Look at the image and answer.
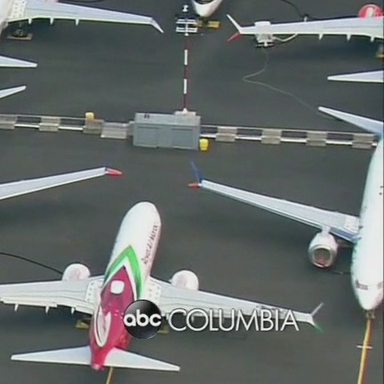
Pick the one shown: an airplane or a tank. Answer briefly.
airplane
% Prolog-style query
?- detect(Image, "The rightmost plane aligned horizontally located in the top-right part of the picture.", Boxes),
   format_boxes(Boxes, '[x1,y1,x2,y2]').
[231,7,384,84]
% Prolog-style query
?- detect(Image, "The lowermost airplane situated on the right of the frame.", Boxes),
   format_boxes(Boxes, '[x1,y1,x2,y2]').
[194,103,384,315]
